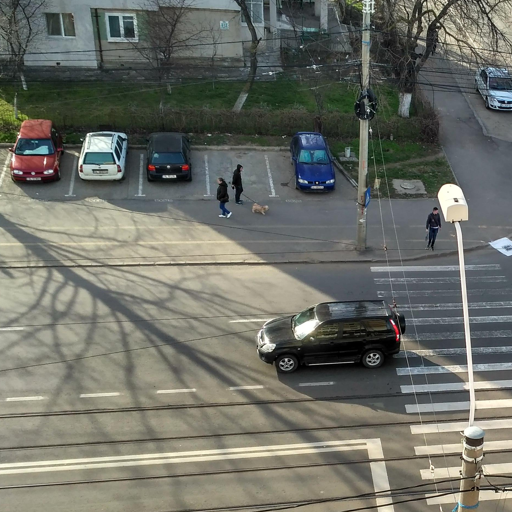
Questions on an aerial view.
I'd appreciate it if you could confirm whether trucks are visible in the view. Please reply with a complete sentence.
No, there is no truck in the image.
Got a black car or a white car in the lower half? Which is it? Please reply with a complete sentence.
The feature located in the lower half is a black car.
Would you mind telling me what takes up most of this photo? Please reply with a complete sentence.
The largest share of the image is taken up by paved ground.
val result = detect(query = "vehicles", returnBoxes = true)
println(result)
[77,126,132,177]
[145,131,195,178]
[476,68,512,108]
[290,129,338,184]
[254,295,408,371]
[8,120,70,178]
